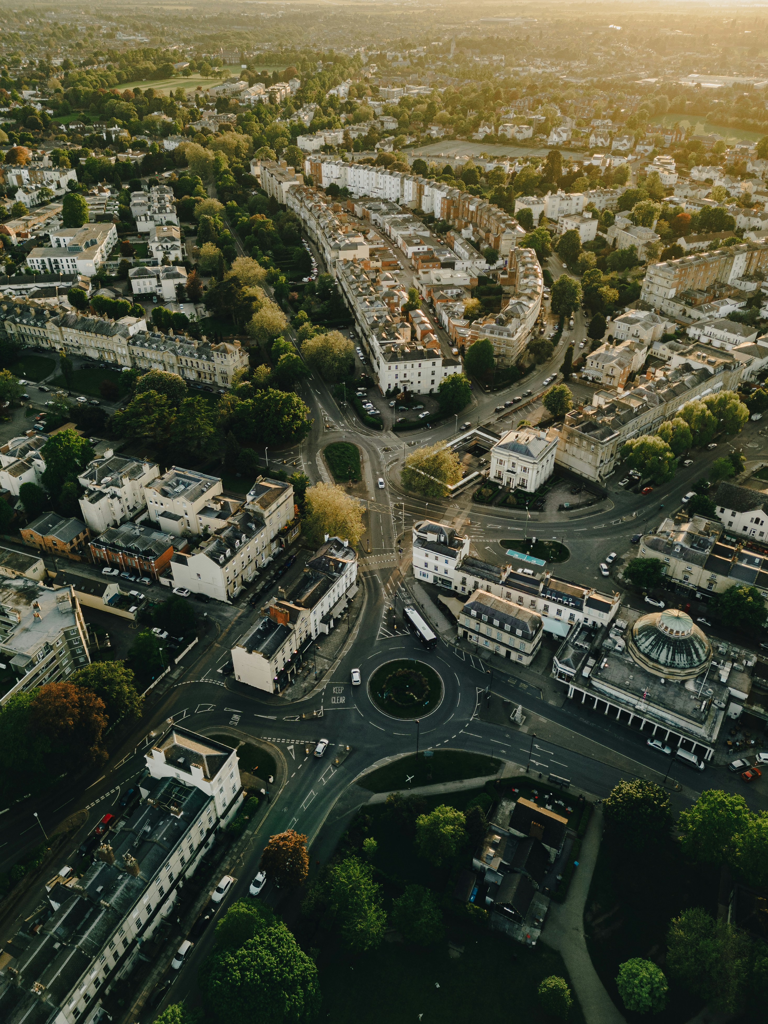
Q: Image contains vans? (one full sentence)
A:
Yes, looking at the shot, I can spot a van.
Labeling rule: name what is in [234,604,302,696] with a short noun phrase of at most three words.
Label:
building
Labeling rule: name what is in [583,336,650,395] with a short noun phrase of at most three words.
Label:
house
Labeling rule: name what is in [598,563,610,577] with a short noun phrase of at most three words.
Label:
vehicle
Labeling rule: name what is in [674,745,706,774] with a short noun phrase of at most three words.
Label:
van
